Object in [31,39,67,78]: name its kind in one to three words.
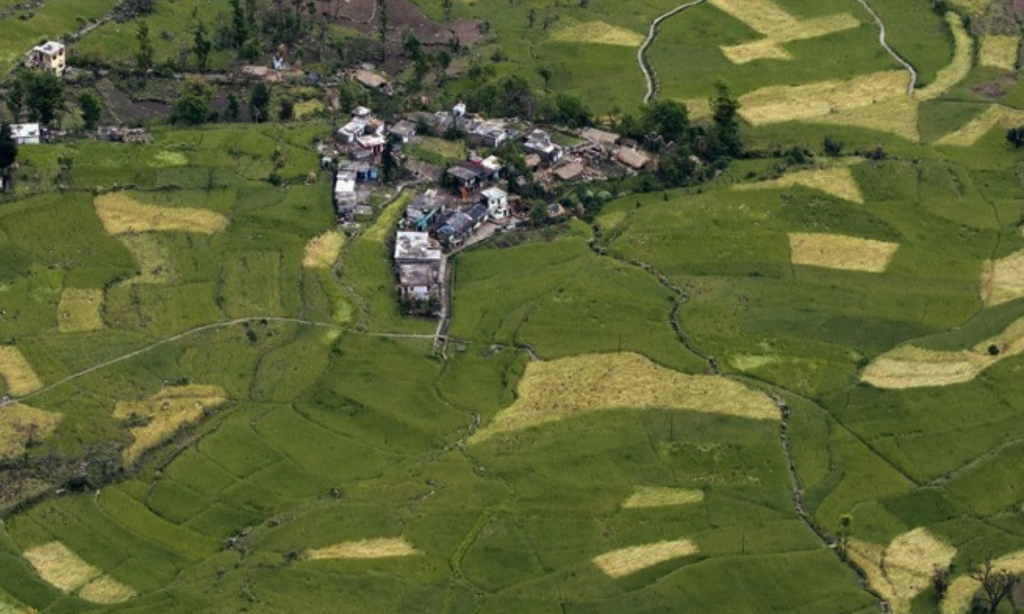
house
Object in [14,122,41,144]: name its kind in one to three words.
shed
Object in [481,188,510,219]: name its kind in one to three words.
house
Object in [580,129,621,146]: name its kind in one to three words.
barn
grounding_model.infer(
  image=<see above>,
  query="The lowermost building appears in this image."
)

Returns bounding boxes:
[398,263,431,305]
